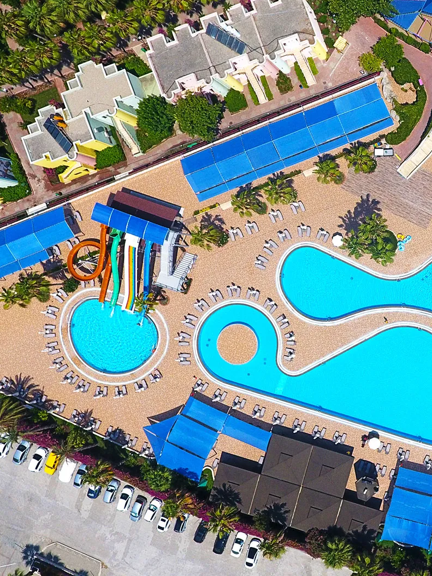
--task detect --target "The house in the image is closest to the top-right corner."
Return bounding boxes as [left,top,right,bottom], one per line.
[144,0,326,105]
